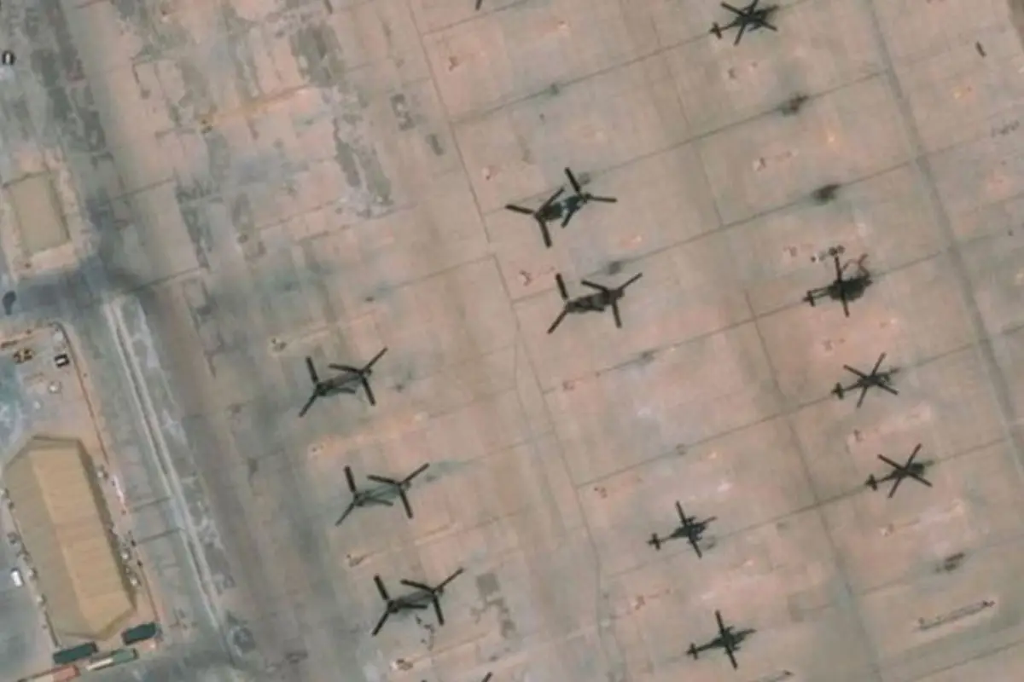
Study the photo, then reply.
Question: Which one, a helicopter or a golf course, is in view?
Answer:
helicopter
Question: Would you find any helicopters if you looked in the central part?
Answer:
Yes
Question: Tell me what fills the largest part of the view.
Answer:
paved ground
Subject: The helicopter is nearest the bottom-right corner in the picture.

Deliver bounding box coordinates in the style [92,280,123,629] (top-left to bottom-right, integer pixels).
[866,444,931,497]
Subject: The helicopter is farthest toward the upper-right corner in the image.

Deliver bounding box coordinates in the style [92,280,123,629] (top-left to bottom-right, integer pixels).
[711,0,776,44]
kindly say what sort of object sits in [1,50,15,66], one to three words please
vehicle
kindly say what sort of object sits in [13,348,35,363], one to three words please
work vehicle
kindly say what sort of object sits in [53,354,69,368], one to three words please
vehicle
